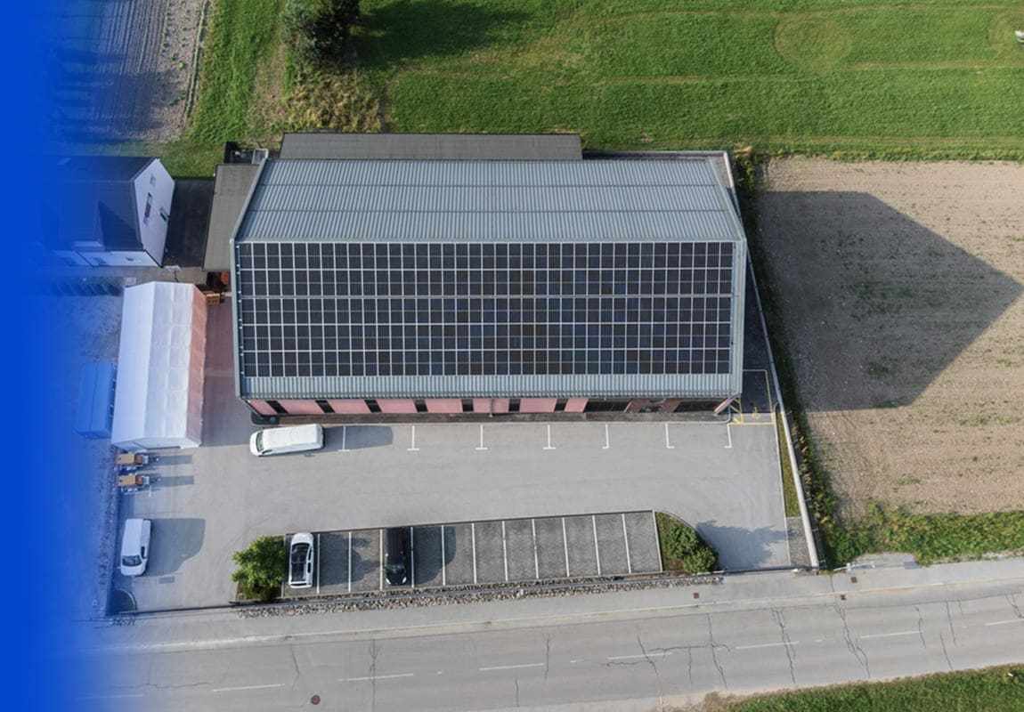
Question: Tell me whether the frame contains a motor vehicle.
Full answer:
Yes, the frame does contain a motor vehicle.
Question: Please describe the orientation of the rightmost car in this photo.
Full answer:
In this picture, the rightmost car is oriented up and down.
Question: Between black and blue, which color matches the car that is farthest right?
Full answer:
From above, the car that is farthest right appears black.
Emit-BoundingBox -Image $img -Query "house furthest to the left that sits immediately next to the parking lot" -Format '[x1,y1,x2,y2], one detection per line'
[0,160,172,267]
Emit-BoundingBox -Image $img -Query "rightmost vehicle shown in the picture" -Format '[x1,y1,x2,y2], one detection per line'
[380,524,408,588]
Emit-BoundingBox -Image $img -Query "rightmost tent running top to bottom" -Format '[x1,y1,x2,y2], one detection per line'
[112,279,206,453]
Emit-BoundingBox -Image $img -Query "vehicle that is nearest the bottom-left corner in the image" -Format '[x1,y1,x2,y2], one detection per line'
[116,514,153,580]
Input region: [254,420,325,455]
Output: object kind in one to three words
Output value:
van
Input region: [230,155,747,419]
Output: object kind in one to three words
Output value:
building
